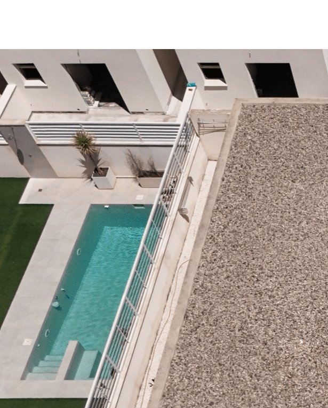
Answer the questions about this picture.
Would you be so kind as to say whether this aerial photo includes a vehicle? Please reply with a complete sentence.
No, this view has no vehicle in it.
